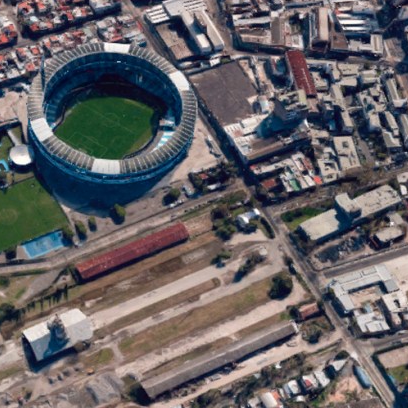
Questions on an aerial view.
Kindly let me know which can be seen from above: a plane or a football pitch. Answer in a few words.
football pitch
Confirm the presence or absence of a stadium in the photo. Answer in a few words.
Yes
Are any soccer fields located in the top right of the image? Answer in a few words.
No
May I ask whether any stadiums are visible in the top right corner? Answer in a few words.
No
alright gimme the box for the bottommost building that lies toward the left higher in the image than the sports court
[10,147,32,167]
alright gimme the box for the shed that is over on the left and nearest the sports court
[76,222,190,284]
